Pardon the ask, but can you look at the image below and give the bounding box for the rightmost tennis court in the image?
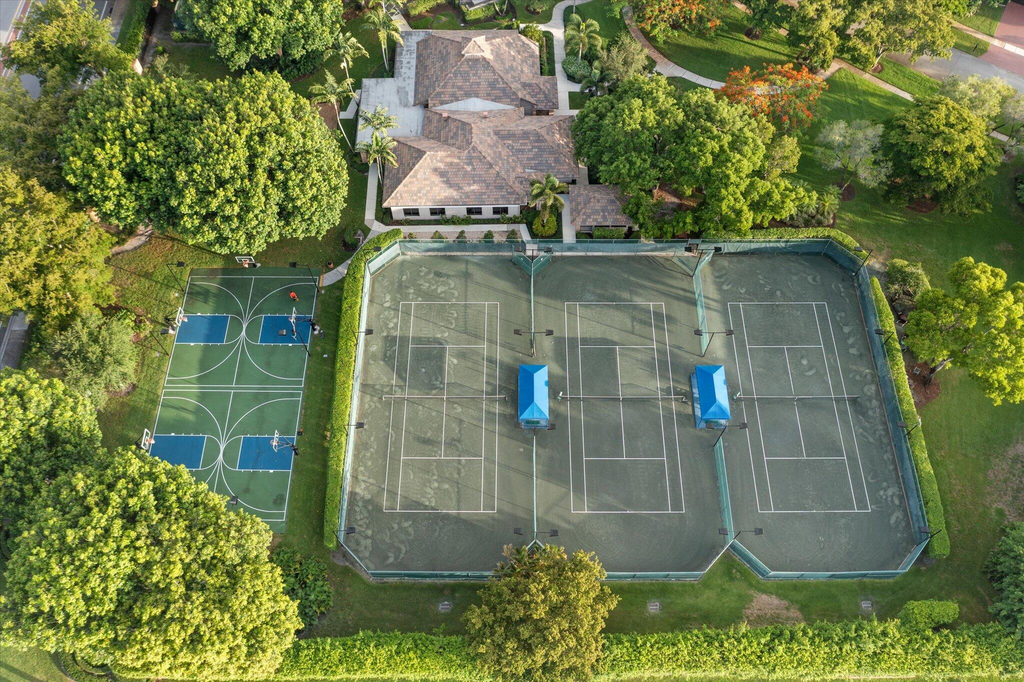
[691,255,916,578]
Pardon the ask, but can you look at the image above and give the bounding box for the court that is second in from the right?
[531,255,731,579]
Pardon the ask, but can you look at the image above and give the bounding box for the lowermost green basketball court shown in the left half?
[141,388,305,534]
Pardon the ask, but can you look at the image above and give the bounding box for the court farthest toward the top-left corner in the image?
[162,268,321,388]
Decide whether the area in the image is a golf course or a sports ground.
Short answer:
sports ground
